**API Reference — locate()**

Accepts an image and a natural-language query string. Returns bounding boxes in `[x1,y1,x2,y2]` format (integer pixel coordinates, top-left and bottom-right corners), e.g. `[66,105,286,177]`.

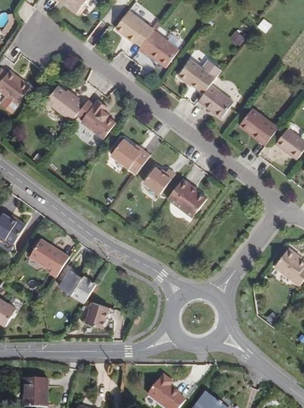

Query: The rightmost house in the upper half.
[276,128,304,160]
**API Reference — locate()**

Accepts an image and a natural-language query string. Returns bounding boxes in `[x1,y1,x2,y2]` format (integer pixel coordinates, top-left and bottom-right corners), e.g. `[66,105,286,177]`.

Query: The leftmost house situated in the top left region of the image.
[0,67,32,111]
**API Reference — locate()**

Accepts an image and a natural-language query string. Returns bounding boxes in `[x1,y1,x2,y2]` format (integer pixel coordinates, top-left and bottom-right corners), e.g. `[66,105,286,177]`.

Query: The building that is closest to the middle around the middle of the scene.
[146,167,176,200]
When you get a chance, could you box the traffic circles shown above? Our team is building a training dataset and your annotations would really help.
[148,268,246,360]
